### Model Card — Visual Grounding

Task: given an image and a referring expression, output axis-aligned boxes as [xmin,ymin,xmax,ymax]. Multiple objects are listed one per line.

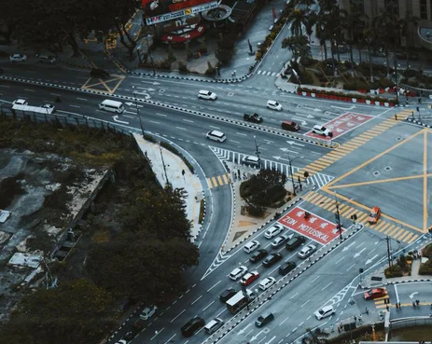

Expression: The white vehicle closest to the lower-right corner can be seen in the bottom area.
[314,303,337,322]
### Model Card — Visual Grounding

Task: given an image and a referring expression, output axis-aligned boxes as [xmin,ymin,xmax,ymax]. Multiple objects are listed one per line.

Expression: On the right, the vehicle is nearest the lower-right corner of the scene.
[362,288,387,300]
